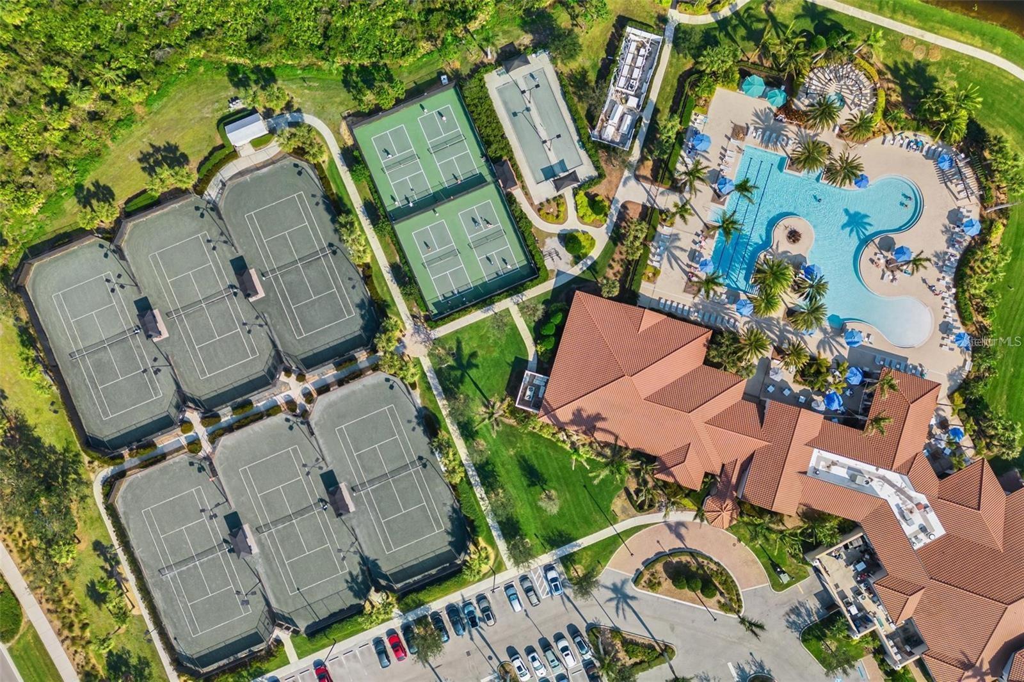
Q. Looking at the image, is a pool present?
Yes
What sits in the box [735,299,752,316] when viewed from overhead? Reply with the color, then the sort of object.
blue umbrella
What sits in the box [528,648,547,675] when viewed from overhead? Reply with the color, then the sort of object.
white car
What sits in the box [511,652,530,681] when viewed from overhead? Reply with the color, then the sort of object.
white car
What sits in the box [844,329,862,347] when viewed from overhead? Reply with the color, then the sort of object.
blue umbrella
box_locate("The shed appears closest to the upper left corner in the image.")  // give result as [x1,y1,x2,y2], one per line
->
[225,113,271,147]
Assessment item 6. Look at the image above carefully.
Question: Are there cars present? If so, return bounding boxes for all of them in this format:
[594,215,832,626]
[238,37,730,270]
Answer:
[314,660,332,682]
[557,637,577,665]
[478,595,496,624]
[431,612,449,640]
[504,583,522,612]
[401,624,418,653]
[511,652,530,681]
[583,659,602,682]
[545,566,563,595]
[447,606,465,635]
[521,577,539,606]
[573,630,592,658]
[554,668,569,682]
[544,643,563,672]
[528,648,547,675]
[463,600,481,629]
[388,632,405,661]
[373,639,391,668]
